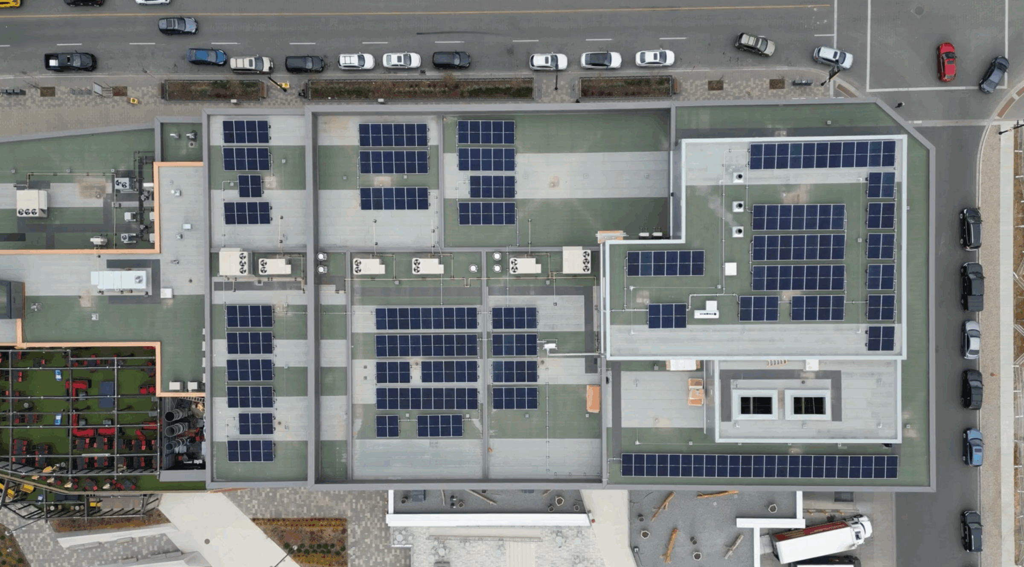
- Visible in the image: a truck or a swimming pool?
truck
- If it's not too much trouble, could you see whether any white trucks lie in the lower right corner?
Yes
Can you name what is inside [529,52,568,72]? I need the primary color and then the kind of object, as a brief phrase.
white car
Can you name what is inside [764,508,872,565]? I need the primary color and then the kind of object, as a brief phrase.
white truck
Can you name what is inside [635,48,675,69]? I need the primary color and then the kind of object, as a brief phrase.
white car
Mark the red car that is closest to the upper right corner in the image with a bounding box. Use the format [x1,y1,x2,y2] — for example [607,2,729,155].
[935,43,958,83]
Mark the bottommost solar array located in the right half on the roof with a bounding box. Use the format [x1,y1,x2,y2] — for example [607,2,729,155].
[619,454,900,478]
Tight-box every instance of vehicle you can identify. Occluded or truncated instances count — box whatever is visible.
[960,370,984,411]
[229,54,274,75]
[156,15,200,37]
[961,428,984,468]
[0,0,23,9]
[580,50,621,70]
[787,551,854,567]
[734,32,775,59]
[382,51,422,71]
[529,52,568,72]
[431,50,471,70]
[186,47,228,67]
[935,43,958,83]
[959,511,984,553]
[959,208,984,250]
[42,51,98,74]
[812,46,853,70]
[284,54,325,74]
[960,321,983,360]
[337,52,376,72]
[635,48,675,69]
[979,57,1008,96]
[764,508,872,565]
[959,263,985,312]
